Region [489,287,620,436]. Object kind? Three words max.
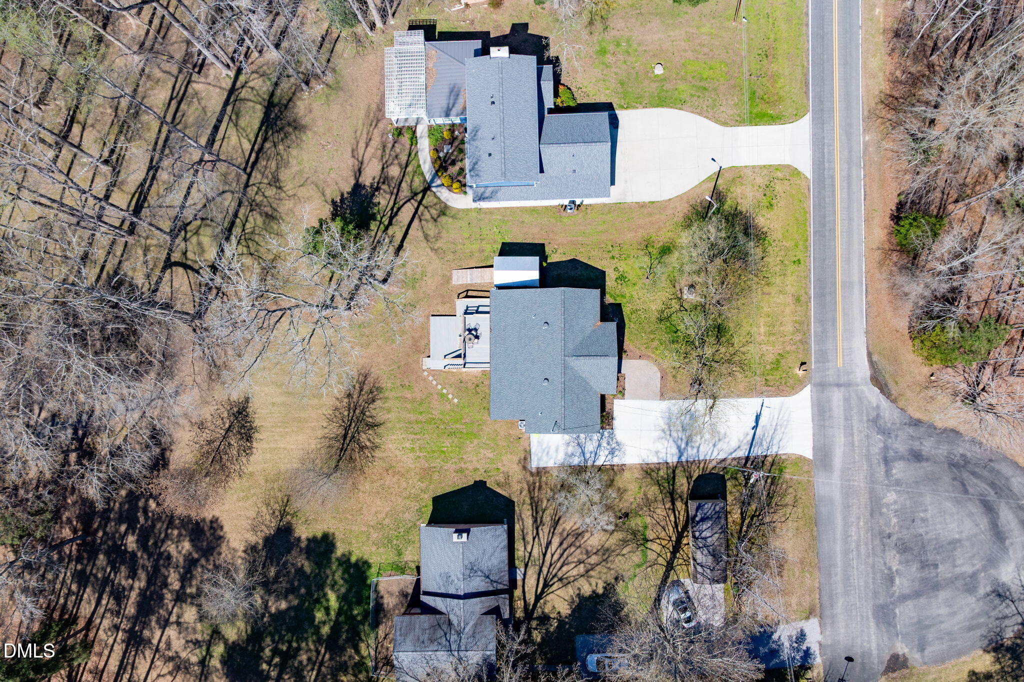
house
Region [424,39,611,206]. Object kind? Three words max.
house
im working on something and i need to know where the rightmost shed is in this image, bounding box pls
[686,499,728,587]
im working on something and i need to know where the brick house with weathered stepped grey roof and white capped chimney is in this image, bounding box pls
[393,512,510,682]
